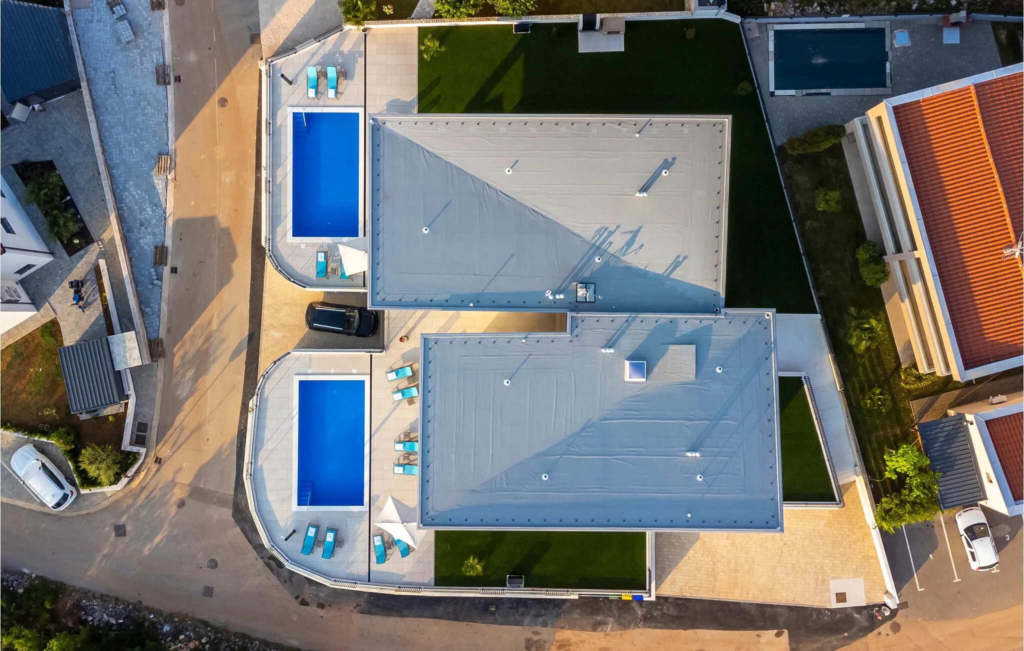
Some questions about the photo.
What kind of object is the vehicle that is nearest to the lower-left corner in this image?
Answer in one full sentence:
It looks like the vehicle that is nearest to the lower-left corner is a car.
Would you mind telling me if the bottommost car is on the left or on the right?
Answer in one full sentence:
The bottommost car is on the right side of the image.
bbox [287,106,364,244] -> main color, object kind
blue swimming pool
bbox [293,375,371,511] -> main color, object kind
blue swimming pool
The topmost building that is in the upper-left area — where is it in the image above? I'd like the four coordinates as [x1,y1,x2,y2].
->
[0,0,83,103]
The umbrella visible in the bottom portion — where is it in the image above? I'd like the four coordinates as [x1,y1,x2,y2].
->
[373,495,419,551]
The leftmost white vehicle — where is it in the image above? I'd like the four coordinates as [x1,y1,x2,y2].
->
[8,442,74,515]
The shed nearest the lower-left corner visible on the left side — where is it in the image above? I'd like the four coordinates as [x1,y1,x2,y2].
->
[56,337,138,414]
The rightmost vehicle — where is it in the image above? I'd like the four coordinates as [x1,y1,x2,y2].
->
[957,509,1004,575]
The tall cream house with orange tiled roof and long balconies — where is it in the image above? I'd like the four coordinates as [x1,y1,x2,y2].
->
[822,61,1024,381]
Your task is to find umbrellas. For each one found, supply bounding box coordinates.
[338,239,368,276]
[373,495,419,551]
